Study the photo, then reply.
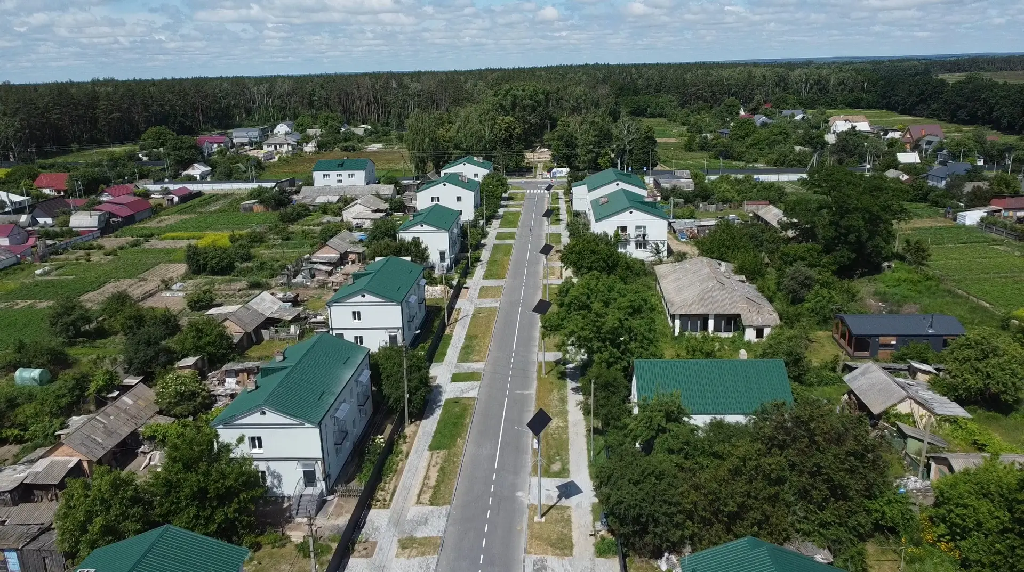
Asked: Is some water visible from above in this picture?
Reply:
No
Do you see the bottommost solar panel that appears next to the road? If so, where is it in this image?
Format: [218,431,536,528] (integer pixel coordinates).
[525,410,551,441]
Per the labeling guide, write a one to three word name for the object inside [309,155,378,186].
house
